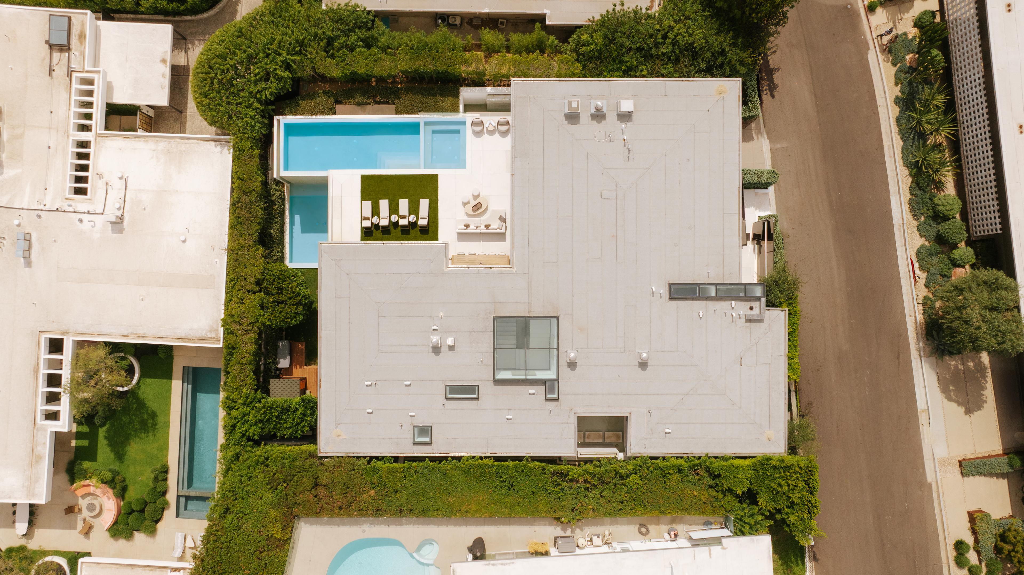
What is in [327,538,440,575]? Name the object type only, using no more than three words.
swimming pool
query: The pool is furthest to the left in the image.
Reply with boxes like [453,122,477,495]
[176,366,243,525]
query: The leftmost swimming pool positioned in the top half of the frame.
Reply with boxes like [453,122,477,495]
[270,174,329,268]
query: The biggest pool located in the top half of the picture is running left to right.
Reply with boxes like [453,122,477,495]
[274,116,479,190]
